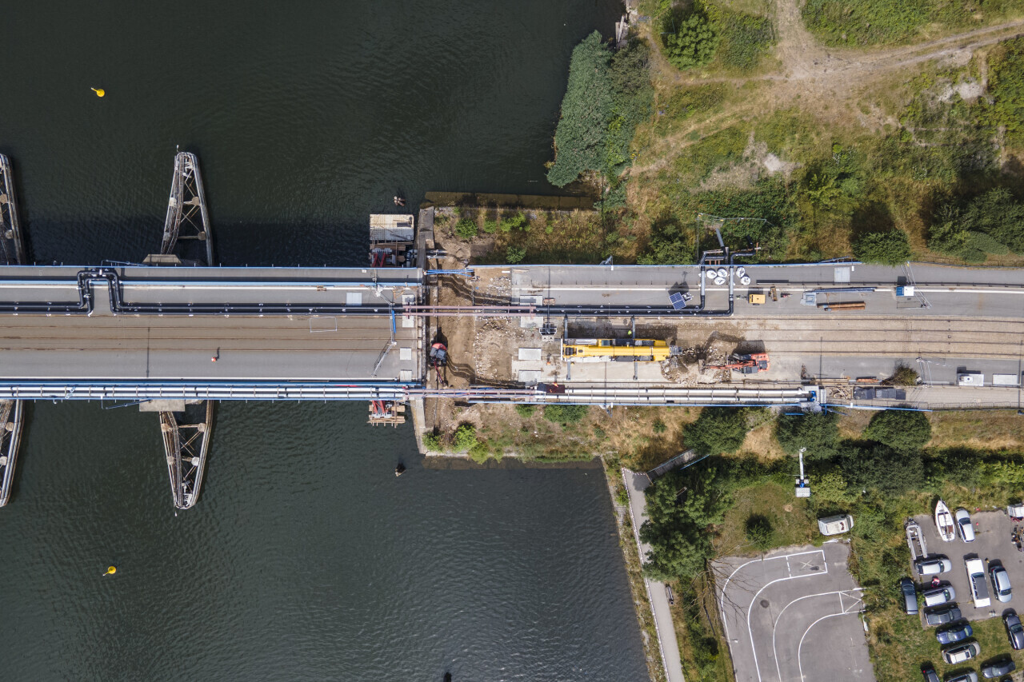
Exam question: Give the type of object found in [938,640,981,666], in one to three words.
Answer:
car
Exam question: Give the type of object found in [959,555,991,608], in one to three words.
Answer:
van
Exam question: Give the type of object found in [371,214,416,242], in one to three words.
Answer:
pier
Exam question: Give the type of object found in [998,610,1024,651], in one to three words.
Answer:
car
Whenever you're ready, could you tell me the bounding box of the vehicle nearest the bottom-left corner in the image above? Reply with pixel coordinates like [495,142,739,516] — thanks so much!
[426,337,448,384]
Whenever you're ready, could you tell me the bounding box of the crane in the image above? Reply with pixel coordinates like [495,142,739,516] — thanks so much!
[561,316,682,381]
